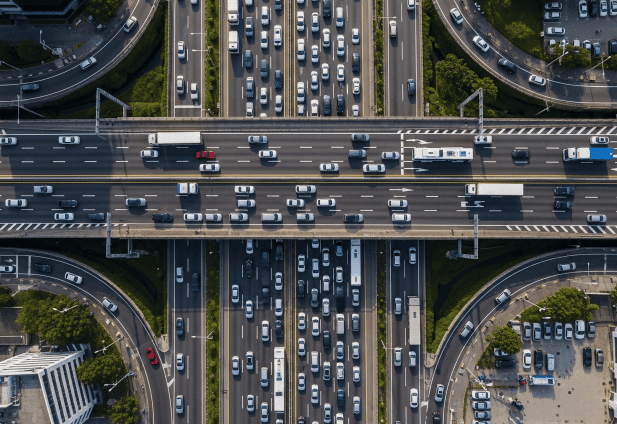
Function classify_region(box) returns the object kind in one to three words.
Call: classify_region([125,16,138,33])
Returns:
vehicle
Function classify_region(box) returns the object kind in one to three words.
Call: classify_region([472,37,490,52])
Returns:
car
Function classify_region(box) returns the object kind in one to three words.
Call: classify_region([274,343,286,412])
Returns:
vehicle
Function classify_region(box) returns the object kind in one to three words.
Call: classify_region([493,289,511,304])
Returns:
car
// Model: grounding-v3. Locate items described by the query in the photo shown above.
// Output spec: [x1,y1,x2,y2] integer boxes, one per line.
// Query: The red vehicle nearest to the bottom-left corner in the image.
[146,347,159,364]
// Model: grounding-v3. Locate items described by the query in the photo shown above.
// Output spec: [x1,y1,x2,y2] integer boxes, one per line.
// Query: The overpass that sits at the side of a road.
[0,117,617,240]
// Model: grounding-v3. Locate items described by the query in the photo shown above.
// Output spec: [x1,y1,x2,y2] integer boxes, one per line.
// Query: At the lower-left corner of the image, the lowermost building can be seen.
[0,350,96,424]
